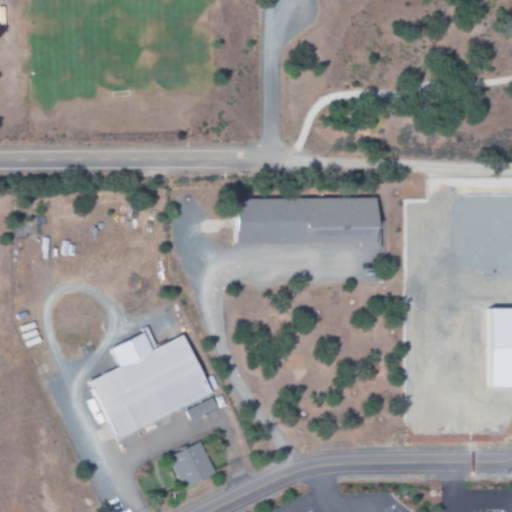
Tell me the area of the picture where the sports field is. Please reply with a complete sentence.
The sports field is located in the top left region of the scene.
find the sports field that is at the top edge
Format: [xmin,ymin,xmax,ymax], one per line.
[26,0,214,114]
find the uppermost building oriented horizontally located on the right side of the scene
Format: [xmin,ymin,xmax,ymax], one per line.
[237,197,382,244]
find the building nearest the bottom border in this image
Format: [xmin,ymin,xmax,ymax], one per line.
[174,441,216,488]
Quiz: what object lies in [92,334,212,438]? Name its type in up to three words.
building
